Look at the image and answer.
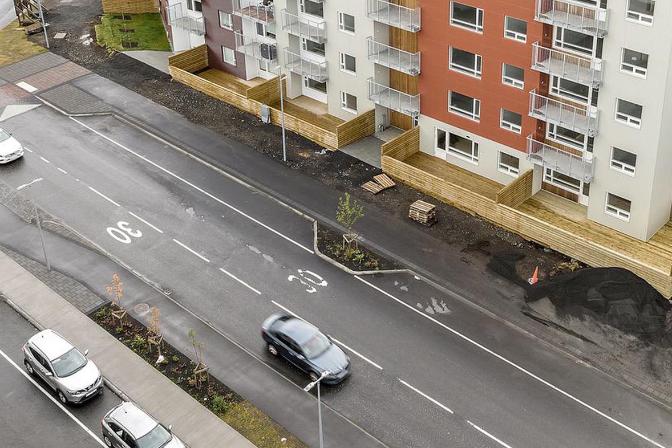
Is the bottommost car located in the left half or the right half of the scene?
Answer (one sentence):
The bottommost car appears in the left half of the scene.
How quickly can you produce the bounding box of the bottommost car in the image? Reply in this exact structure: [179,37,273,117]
[95,396,189,448]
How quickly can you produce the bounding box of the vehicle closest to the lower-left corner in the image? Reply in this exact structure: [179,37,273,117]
[19,331,102,405]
